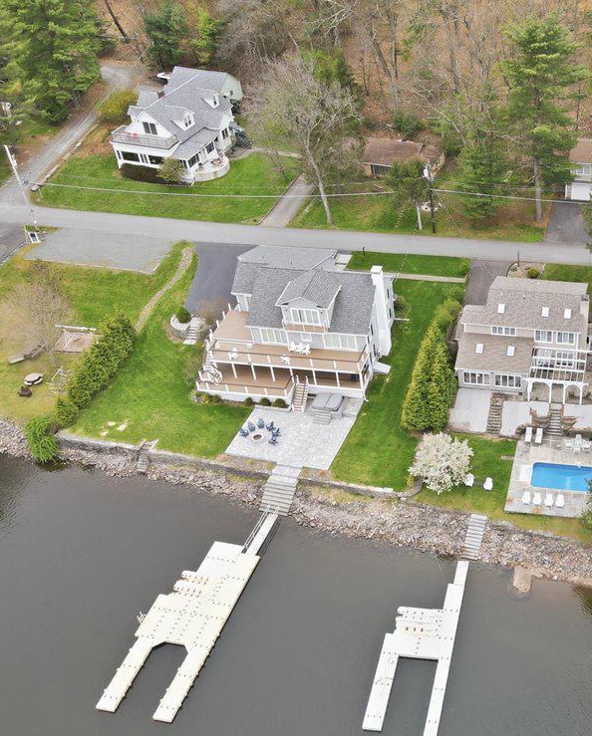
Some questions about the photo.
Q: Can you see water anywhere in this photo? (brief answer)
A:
Yes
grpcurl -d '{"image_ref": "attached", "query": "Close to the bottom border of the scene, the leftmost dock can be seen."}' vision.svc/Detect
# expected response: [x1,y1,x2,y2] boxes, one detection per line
[97,542,262,725]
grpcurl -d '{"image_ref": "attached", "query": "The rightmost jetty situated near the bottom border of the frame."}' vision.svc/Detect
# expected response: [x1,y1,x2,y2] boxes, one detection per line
[363,584,464,736]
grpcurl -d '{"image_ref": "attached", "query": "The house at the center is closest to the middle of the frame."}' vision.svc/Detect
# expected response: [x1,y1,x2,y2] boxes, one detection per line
[191,247,398,409]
